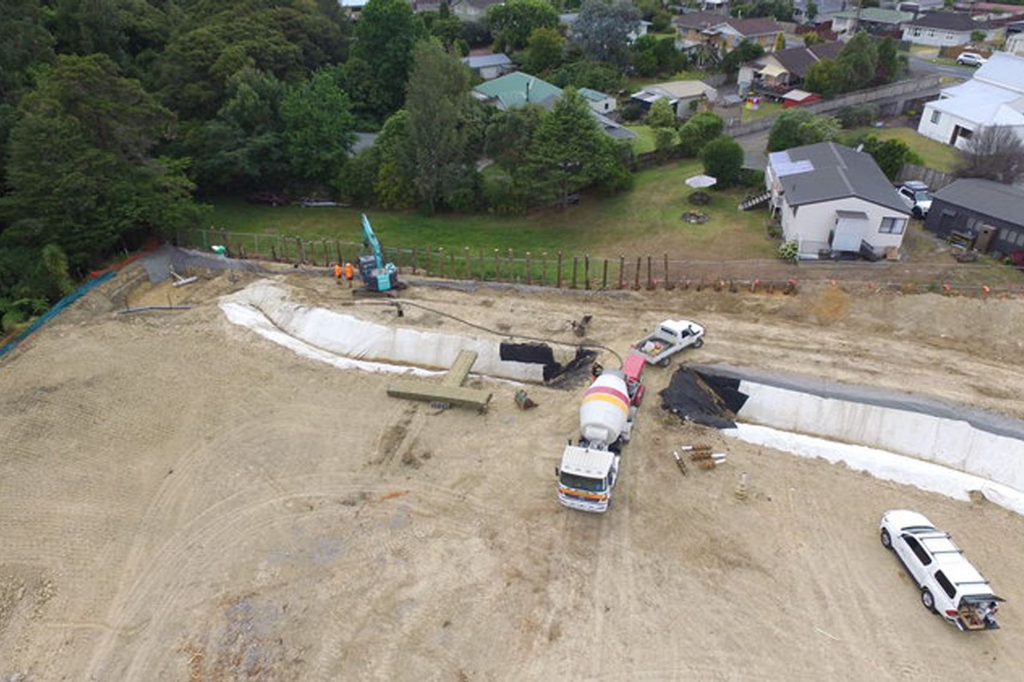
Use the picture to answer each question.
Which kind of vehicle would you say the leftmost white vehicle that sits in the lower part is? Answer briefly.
truck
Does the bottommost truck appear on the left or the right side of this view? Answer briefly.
right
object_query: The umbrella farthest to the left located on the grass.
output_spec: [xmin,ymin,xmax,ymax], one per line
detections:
[688,176,720,201]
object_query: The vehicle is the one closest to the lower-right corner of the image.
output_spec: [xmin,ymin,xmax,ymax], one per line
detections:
[878,516,1008,637]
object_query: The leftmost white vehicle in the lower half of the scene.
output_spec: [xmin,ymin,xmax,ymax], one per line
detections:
[554,373,632,515]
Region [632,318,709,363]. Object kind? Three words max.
truck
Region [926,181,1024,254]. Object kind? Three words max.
shed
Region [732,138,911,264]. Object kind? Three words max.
house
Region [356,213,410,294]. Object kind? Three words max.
work vehicle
